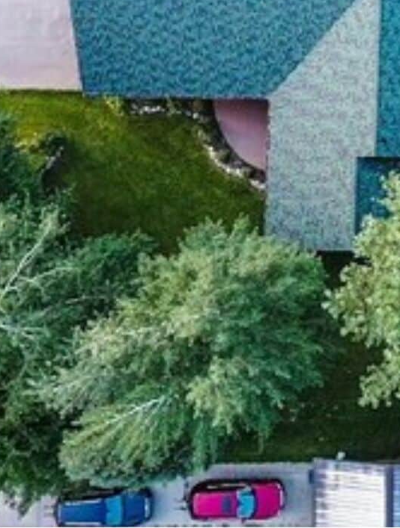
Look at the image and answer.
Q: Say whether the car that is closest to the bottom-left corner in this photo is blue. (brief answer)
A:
Yes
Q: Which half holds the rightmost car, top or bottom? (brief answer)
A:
bottom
